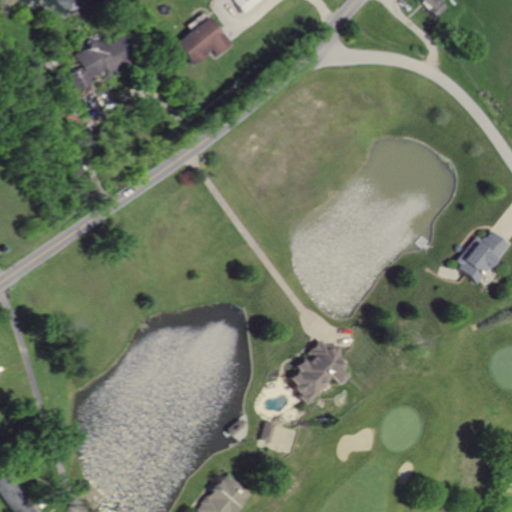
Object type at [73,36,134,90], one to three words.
house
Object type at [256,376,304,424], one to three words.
swimming pool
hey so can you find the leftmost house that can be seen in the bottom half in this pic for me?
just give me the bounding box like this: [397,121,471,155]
[194,474,265,512]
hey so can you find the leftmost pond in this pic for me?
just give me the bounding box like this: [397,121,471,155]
[72,303,250,512]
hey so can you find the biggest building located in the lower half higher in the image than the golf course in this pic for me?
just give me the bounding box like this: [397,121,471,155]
[286,343,350,400]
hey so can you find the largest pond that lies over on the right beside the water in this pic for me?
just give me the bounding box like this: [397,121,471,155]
[290,137,455,318]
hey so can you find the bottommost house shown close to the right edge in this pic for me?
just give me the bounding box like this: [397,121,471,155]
[456,232,508,280]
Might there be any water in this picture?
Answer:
Yes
